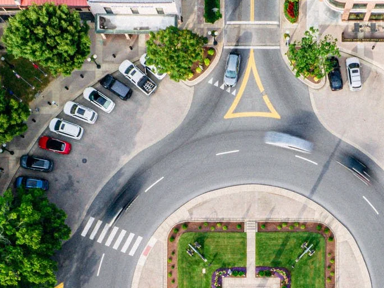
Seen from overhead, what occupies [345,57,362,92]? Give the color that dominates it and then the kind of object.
white car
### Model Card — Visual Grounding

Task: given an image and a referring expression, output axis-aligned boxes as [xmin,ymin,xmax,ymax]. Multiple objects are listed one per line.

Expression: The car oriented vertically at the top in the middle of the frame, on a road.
[223,50,240,87]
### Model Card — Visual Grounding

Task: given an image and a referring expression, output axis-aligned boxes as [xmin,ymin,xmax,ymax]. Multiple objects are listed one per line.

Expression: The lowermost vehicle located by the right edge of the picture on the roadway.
[339,154,374,184]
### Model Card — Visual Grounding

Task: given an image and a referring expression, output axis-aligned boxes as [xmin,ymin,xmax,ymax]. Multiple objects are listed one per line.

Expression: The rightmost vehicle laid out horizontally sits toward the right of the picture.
[266,130,312,155]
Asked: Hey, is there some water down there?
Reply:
No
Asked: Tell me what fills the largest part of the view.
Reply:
paved ground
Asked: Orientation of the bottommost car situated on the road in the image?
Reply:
diagonally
